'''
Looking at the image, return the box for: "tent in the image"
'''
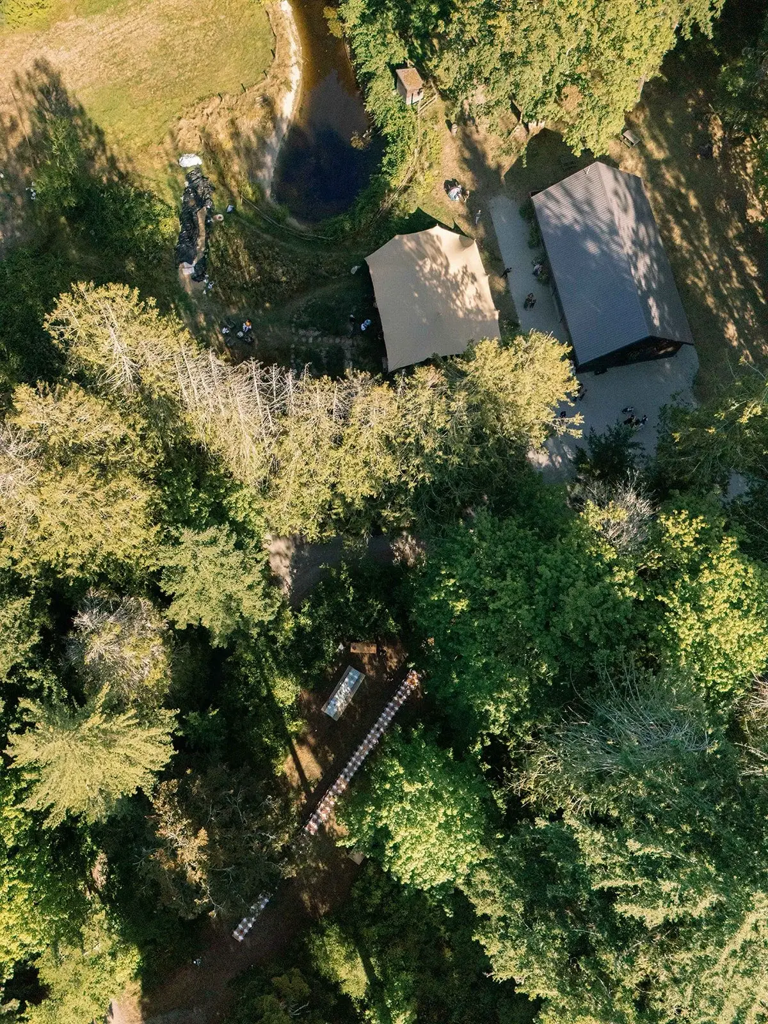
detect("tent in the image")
[352,224,505,387]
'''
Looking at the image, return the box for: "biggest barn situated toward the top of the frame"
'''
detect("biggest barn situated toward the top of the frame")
[530,160,697,373]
